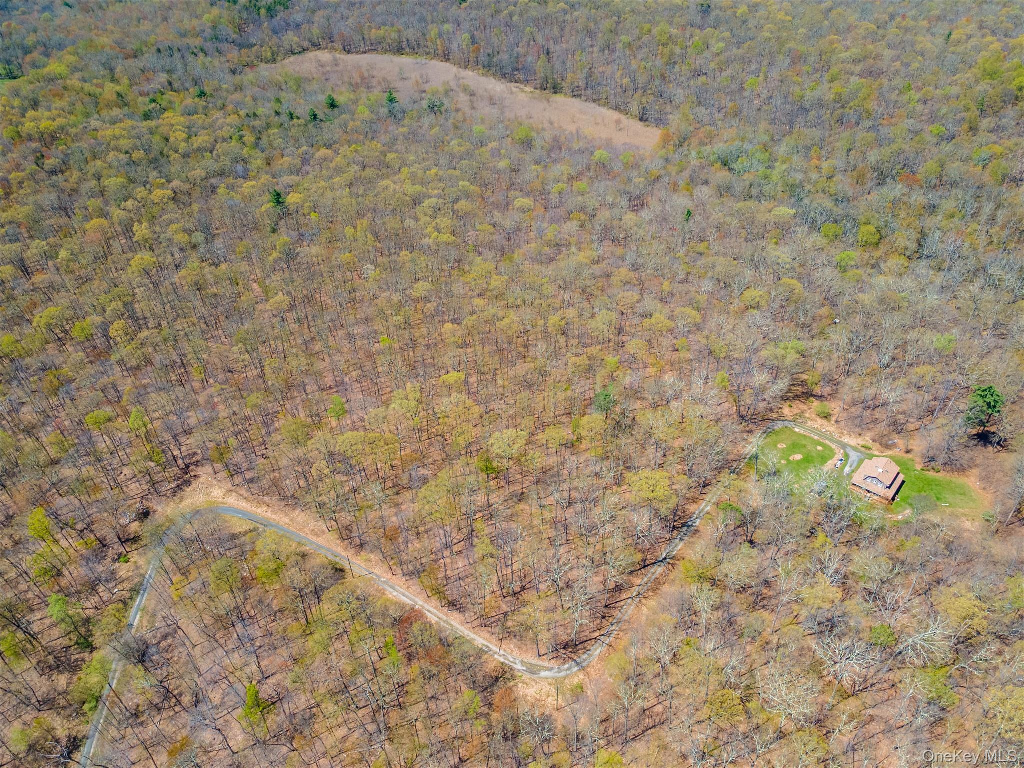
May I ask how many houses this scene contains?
1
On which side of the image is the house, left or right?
right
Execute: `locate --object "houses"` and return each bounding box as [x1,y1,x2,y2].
[848,456,904,509]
